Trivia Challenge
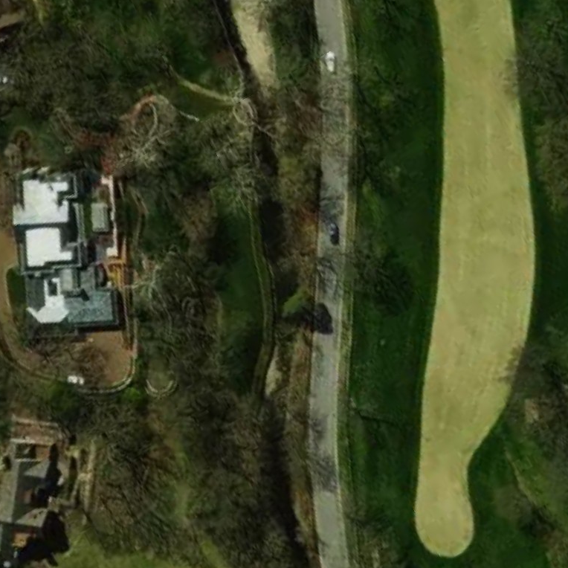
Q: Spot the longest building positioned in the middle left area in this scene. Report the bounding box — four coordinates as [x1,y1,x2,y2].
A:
[14,175,120,336]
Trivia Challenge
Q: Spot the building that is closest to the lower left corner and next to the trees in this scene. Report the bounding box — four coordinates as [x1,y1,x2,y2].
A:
[0,458,51,561]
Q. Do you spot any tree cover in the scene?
Yes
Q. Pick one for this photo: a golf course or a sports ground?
golf course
